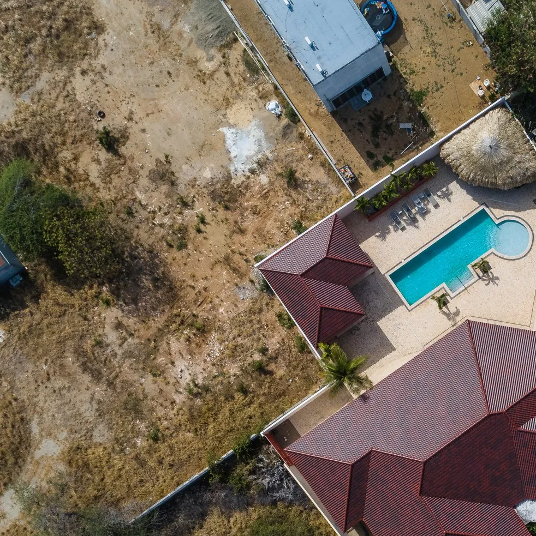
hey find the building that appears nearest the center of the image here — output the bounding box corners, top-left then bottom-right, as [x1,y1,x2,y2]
[258,214,373,348]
